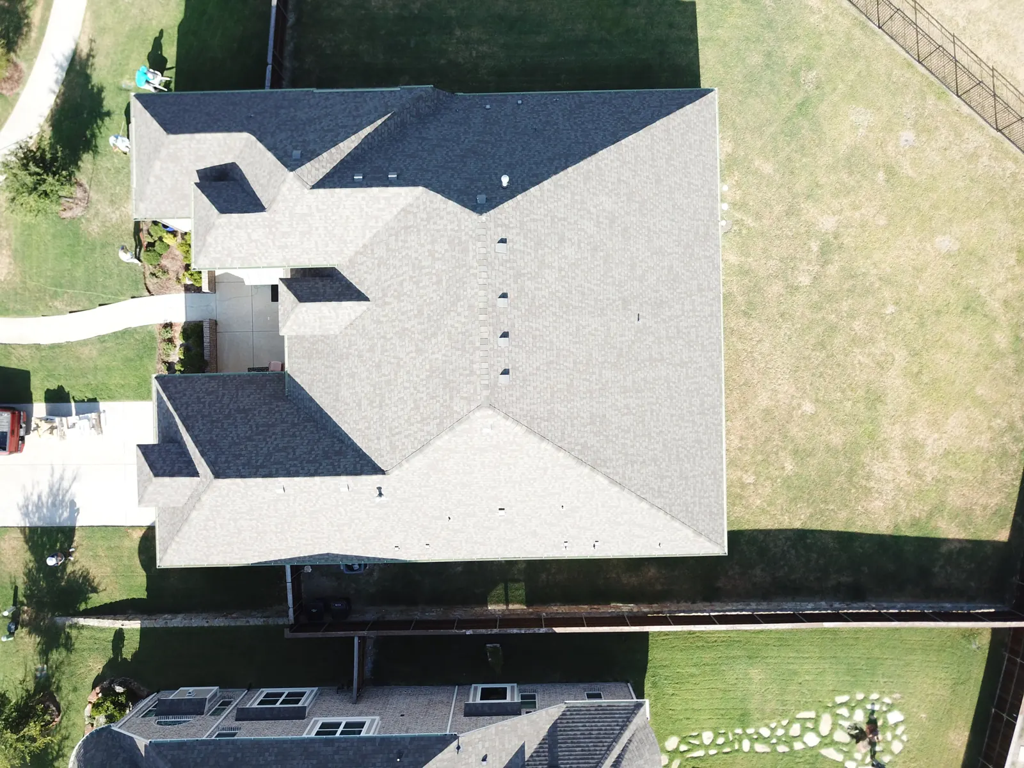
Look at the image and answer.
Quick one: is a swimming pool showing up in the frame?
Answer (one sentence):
No, I can see no swimming pool in this picture.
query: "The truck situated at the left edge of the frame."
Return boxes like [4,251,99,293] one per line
[0,408,29,454]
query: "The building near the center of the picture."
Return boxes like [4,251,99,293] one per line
[129,82,730,570]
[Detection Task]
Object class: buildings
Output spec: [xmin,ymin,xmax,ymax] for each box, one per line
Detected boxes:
[74,681,664,768]
[129,82,730,570]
